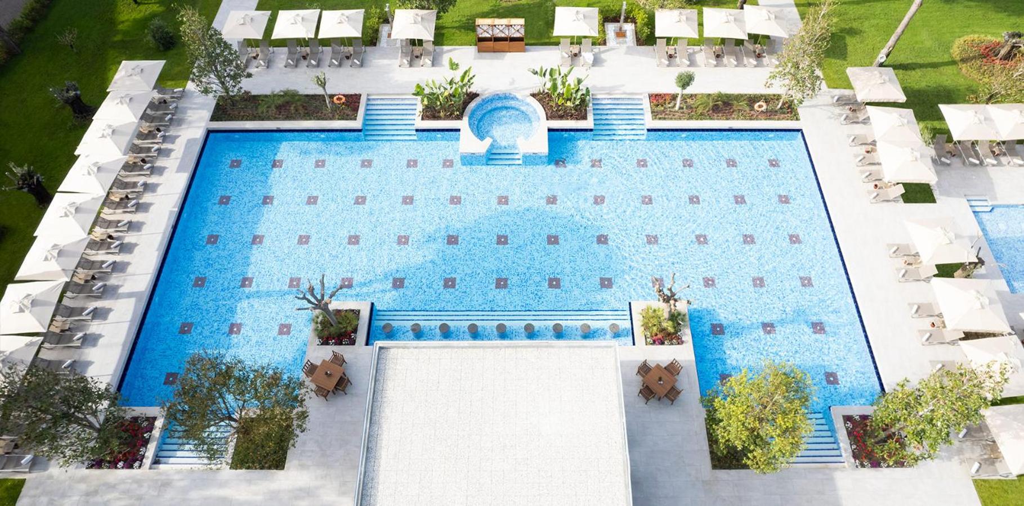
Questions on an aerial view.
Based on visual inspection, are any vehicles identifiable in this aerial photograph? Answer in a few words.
No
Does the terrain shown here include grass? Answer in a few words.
Yes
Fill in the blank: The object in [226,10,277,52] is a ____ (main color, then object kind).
white umbrella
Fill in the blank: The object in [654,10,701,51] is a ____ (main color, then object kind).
white umbrella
